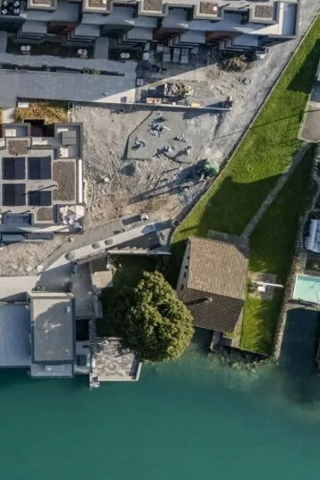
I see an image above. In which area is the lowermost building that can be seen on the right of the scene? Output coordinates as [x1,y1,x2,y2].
[178,237,248,332]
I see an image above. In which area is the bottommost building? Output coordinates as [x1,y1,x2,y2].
[27,288,75,376]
